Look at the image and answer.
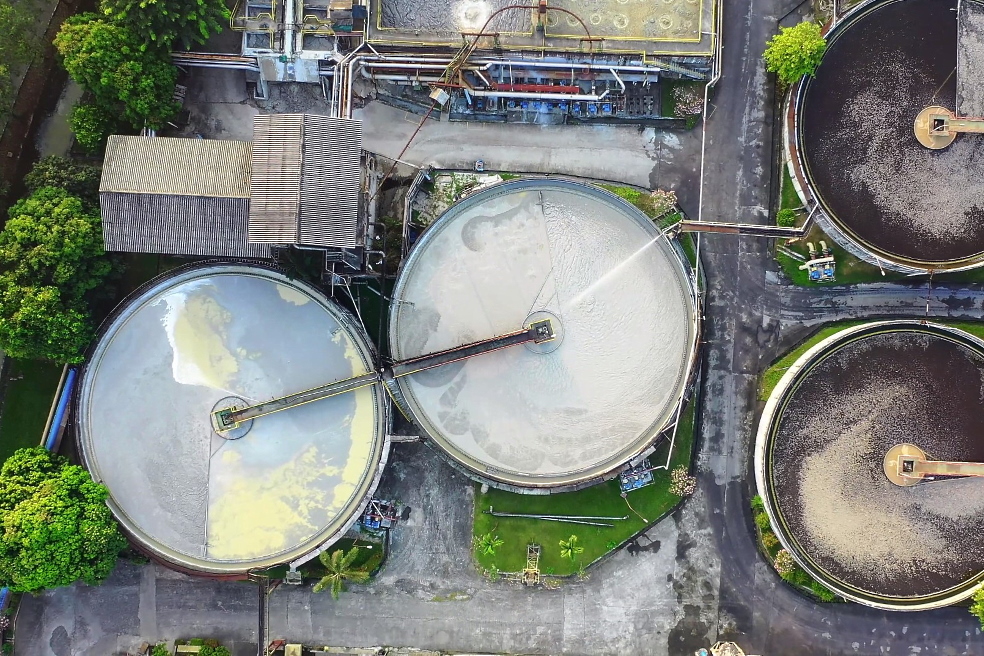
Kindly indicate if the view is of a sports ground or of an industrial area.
industrial area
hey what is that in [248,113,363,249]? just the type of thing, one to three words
shed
